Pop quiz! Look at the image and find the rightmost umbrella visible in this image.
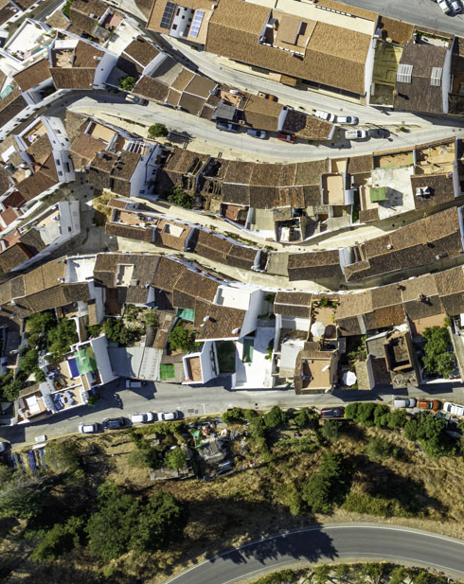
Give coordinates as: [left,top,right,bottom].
[340,375,354,388]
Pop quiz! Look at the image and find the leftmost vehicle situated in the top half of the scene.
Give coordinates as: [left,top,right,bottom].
[127,93,147,107]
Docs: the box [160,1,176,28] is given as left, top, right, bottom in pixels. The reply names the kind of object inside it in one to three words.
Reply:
solar panel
